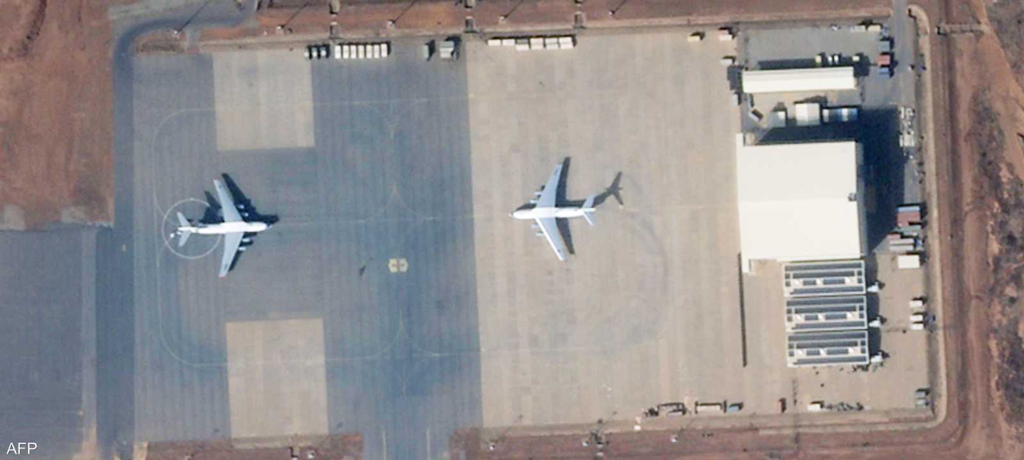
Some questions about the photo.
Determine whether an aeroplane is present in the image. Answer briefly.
Yes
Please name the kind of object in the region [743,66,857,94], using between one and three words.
shed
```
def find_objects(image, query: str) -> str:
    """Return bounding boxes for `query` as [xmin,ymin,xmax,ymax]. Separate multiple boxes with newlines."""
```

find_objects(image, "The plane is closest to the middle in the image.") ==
[510,164,598,262]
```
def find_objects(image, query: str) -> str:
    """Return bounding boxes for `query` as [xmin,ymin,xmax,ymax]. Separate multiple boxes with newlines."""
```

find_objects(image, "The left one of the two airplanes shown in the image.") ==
[177,179,271,277]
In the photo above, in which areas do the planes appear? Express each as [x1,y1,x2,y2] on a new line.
[510,164,598,262]
[177,179,271,277]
